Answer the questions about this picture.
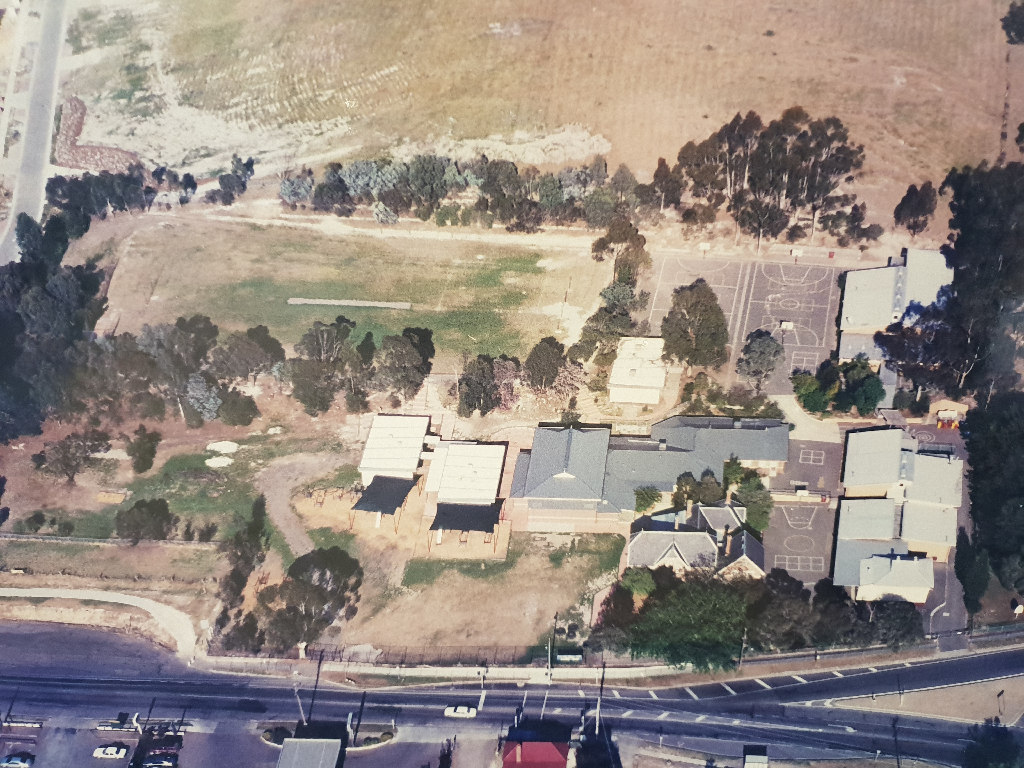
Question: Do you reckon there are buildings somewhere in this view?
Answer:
Yes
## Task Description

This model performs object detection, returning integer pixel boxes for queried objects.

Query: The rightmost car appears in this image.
[443,705,477,720]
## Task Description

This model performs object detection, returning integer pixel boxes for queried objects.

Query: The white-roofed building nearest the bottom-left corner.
[358,416,429,481]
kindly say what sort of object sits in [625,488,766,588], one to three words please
building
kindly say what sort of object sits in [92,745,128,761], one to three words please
car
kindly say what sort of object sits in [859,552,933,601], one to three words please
house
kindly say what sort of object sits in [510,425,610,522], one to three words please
building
